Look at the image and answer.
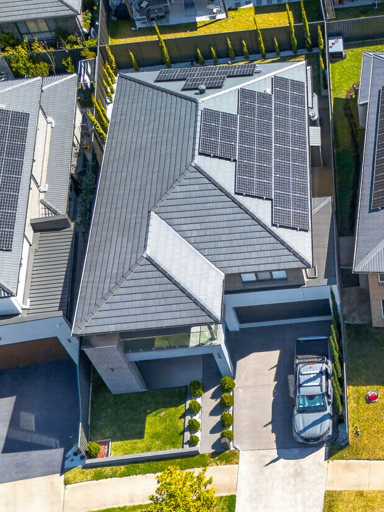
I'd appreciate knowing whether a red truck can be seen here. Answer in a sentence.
No, the frame has no red truck in it.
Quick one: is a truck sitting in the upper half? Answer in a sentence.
No, there's no truck to be seen in the upper half.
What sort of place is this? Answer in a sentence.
This looks like a residential area.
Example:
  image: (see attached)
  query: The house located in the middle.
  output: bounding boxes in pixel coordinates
[69,60,340,394]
